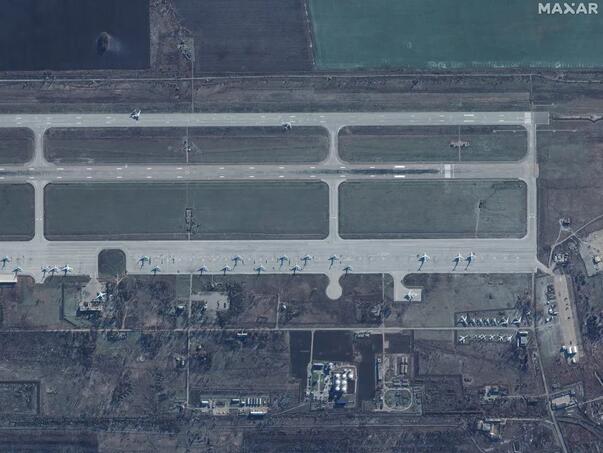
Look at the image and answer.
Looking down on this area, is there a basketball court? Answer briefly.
No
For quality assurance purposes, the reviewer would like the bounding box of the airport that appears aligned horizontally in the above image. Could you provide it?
[0,112,579,366]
